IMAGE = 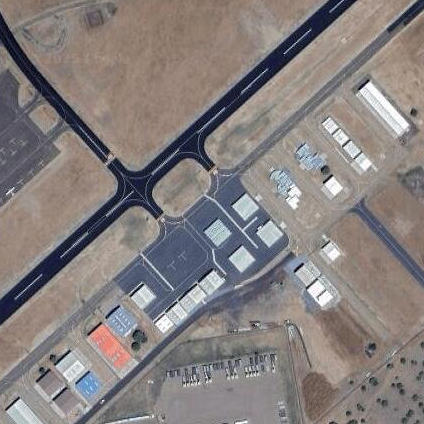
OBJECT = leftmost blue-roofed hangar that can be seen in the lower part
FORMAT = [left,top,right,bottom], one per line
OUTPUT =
[76,371,102,398]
